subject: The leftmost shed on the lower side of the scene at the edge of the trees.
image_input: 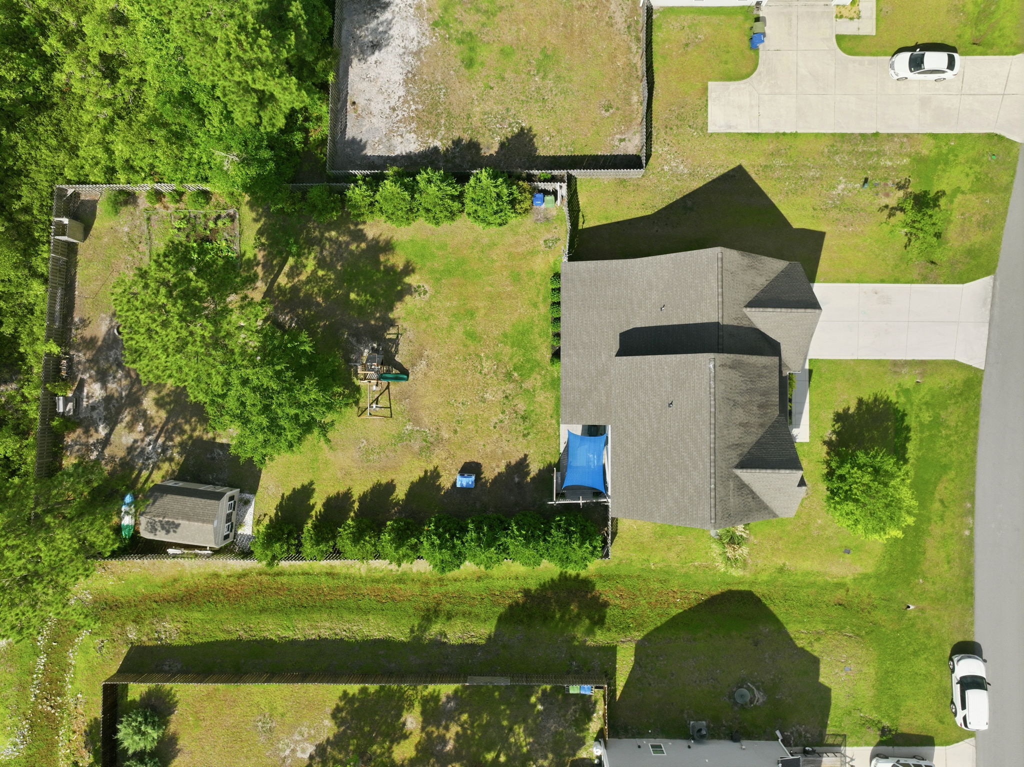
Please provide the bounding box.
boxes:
[139,480,240,549]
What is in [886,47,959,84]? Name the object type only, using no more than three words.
car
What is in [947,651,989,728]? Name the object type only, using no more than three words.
car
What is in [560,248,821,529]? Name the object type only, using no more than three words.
house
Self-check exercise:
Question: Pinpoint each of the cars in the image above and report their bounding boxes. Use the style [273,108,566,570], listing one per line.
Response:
[886,47,959,84]
[947,651,989,728]
[869,753,940,767]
